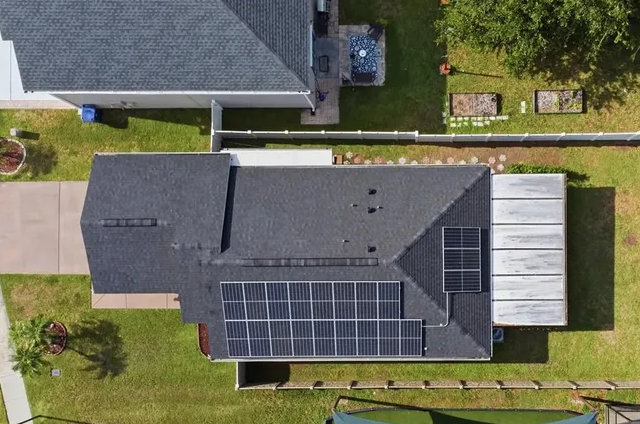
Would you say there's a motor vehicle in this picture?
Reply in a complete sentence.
No, no motor vehicle is visible in the view.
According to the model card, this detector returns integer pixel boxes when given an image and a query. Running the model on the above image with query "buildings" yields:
[0,0,317,118]
[79,151,494,364]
